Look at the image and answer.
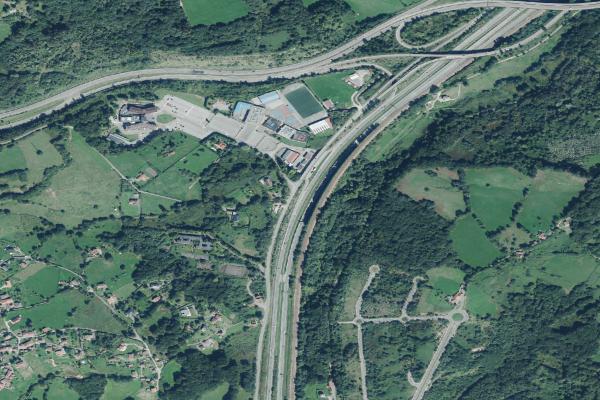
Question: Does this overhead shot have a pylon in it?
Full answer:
No, there appears to be no pylon in this shot.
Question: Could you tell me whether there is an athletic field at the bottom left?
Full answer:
No, at the bottom left there is no athletic field.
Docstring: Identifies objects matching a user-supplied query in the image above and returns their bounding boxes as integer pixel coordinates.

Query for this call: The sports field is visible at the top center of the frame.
[281,81,328,124]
